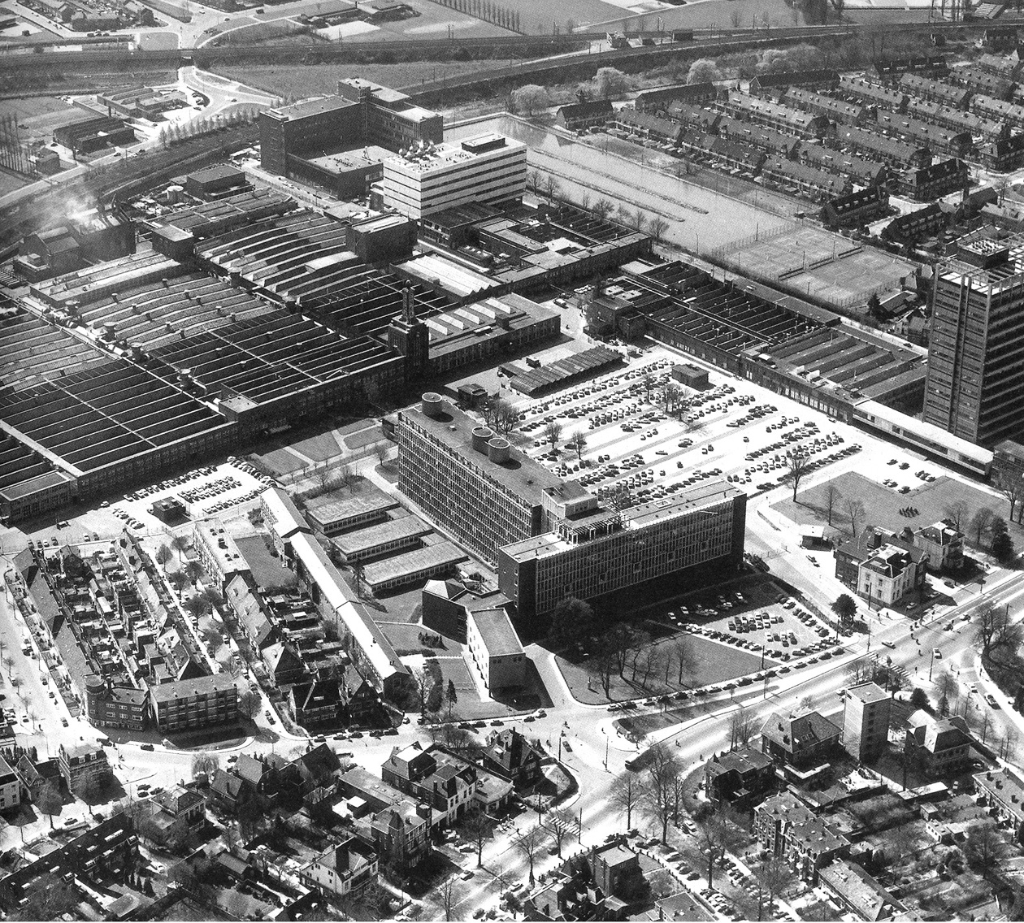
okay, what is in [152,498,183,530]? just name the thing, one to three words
shed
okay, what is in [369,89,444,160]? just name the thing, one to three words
building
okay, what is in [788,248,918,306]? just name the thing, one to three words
sports court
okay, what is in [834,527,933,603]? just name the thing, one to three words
house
